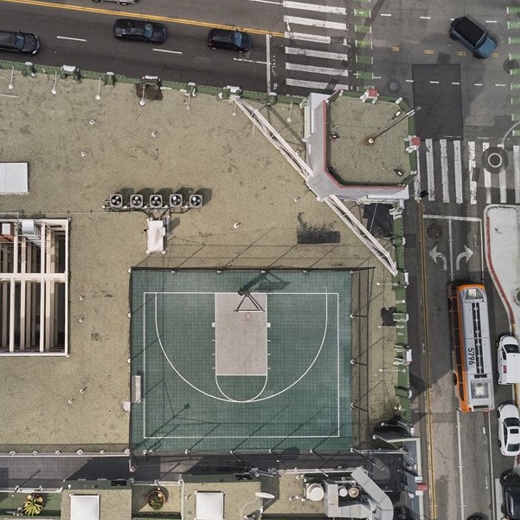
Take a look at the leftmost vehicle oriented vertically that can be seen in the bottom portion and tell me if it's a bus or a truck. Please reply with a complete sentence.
I'd say the leftmost vehicle oriented vertically that can be seen in the bottom portion is a bus.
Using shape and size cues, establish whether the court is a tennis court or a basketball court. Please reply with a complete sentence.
The court can be classified as a basketball court.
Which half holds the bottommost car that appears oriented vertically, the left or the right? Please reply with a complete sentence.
You can find the bottommost car that appears oriented vertically on the right side of the picture.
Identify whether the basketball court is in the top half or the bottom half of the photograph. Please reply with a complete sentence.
The basketball court is in the bottom half of the image.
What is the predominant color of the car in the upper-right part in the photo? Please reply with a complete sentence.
The car in the upper-right part looks black in the image.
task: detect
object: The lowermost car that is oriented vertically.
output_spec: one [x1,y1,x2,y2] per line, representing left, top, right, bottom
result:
[497,469,520,520]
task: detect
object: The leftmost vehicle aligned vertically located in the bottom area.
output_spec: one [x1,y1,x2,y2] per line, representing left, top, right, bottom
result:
[447,280,495,412]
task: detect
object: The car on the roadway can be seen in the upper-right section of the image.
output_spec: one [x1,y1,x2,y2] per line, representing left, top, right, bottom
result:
[450,16,494,58]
